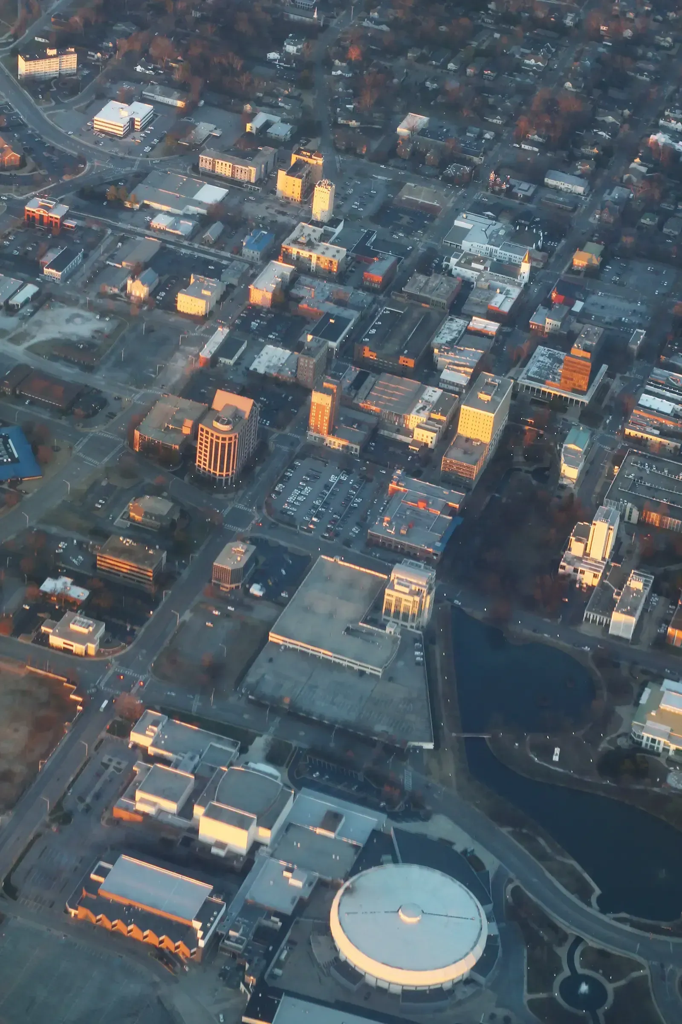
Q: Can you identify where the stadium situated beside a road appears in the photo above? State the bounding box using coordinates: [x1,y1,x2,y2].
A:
[315,833,501,1008]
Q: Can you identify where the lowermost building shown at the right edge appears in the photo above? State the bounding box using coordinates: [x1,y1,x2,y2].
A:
[630,679,682,760]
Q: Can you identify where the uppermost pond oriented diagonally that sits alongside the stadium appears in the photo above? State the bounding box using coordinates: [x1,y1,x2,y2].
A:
[453,618,682,922]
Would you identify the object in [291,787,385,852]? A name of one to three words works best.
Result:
building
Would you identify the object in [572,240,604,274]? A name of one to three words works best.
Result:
house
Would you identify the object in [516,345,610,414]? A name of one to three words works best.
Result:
building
